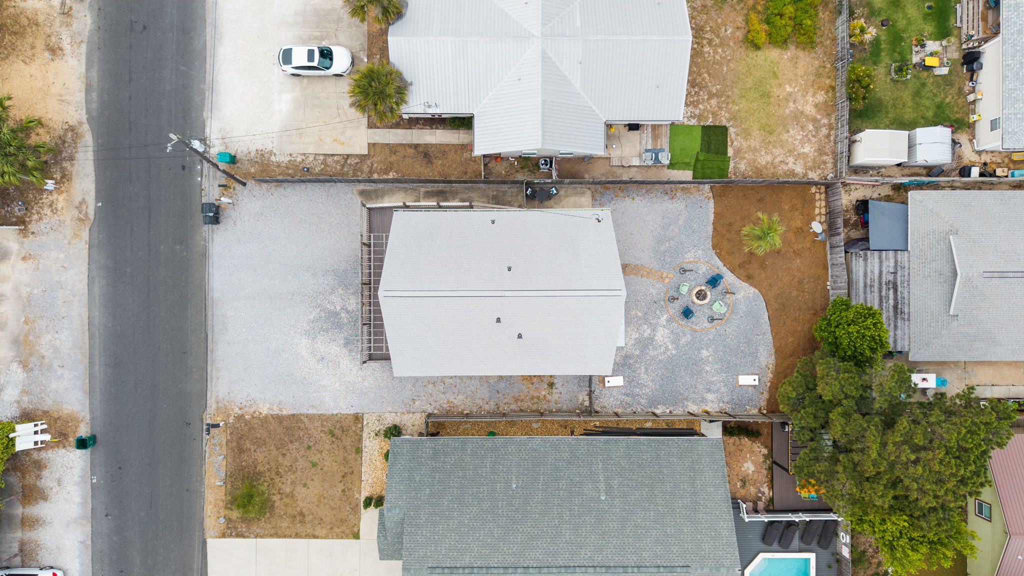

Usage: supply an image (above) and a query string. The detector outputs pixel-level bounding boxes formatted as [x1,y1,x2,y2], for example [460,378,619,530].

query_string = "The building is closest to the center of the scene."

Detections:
[378,206,626,376]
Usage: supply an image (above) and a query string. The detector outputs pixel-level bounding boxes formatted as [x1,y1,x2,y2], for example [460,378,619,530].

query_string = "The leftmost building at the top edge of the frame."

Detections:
[387,0,692,158]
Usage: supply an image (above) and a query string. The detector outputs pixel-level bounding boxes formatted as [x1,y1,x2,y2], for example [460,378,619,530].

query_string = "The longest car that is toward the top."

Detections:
[276,39,354,78]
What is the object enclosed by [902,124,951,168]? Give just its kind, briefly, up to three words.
shed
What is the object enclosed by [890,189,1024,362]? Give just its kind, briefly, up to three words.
house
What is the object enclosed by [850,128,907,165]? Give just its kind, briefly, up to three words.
shed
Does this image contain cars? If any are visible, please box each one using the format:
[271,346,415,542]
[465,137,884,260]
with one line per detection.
[276,39,354,78]
[0,566,62,576]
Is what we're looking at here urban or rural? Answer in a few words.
urban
